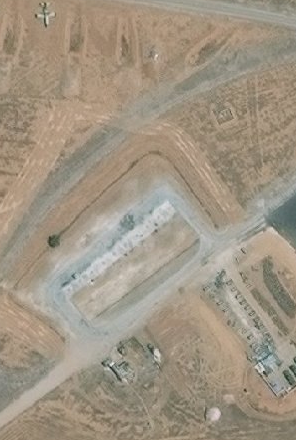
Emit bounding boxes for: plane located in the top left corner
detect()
[36,2,56,26]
